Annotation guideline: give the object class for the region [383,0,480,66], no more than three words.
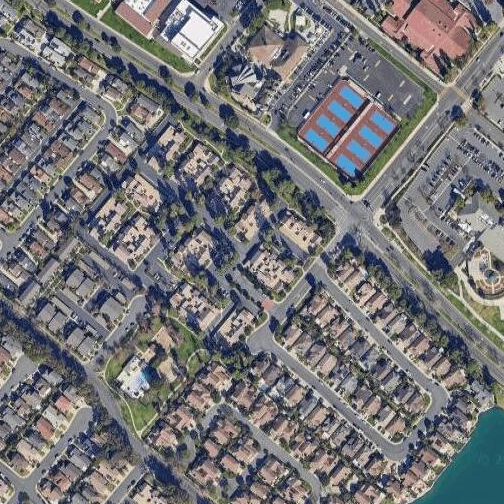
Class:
building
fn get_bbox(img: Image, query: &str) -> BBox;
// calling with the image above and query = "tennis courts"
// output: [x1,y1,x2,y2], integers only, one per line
[363,104,400,139]
[297,121,335,157]
[309,107,347,143]
[332,79,369,113]
[328,147,365,181]
[352,118,389,152]
[340,133,377,167]
[320,93,358,128]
